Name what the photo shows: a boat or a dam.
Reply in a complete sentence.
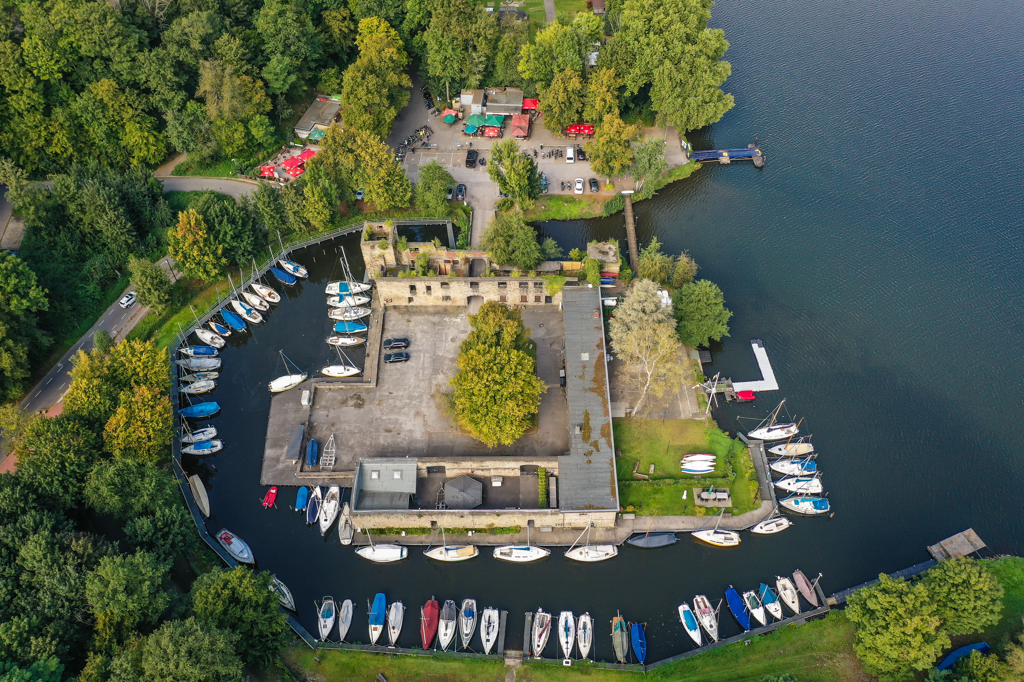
It is a boat that can be seen here.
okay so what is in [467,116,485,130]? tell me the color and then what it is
green umbrella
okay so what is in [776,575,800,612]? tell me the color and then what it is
white boat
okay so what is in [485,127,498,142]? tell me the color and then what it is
red umbrella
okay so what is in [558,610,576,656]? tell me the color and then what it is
white boat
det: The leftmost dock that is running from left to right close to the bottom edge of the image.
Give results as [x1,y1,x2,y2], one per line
[317,640,503,659]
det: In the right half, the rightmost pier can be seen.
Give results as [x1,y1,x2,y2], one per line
[824,554,936,606]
